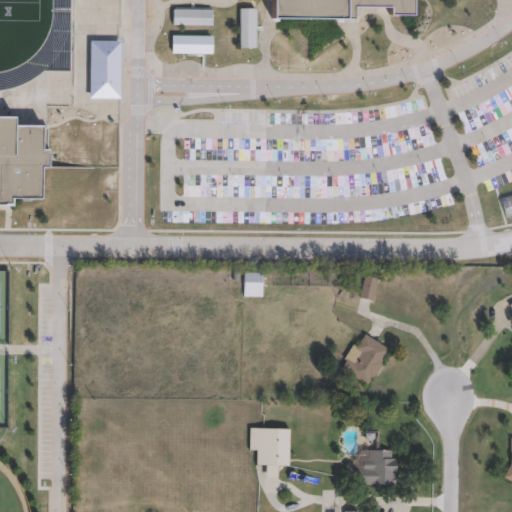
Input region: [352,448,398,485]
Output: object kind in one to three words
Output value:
house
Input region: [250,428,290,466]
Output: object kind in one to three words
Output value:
house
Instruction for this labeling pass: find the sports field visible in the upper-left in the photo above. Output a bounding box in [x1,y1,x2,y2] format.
[0,0,53,72]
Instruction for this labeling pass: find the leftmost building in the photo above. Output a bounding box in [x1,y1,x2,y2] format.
[0,117,51,206]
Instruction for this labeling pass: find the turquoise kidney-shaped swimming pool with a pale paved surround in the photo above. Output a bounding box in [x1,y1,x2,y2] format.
[340,426,366,458]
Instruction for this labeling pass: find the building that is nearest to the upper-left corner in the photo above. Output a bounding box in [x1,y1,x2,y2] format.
[91,40,121,98]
